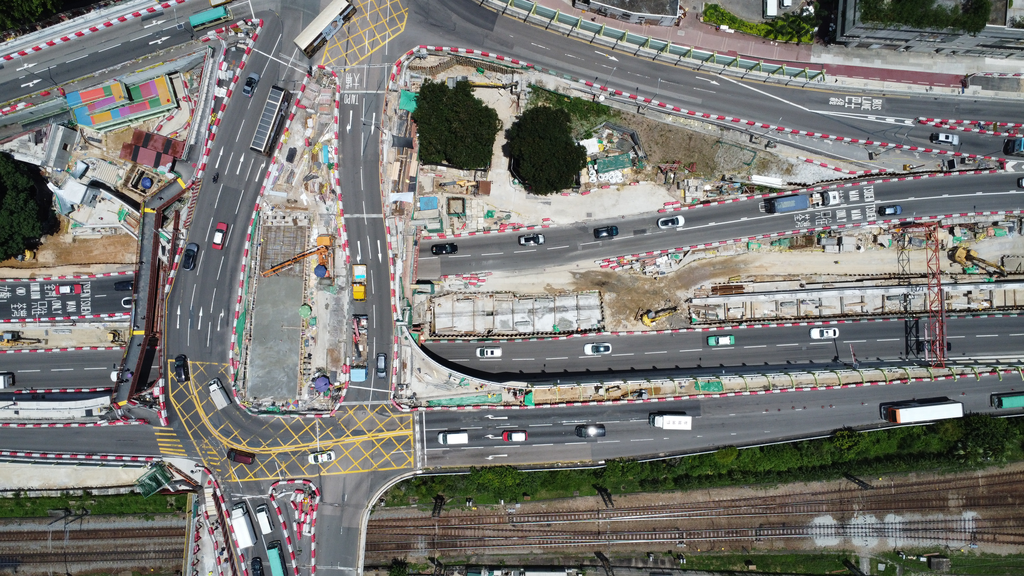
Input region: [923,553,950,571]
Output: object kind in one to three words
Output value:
shed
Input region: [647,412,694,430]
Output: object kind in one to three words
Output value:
vehicle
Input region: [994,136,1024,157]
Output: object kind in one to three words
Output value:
bus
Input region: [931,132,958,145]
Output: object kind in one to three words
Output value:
vehicle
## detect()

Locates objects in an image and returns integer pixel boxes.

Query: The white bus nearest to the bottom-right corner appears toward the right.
[876,400,964,425]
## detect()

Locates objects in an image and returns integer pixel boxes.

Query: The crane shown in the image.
[259,231,344,282]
